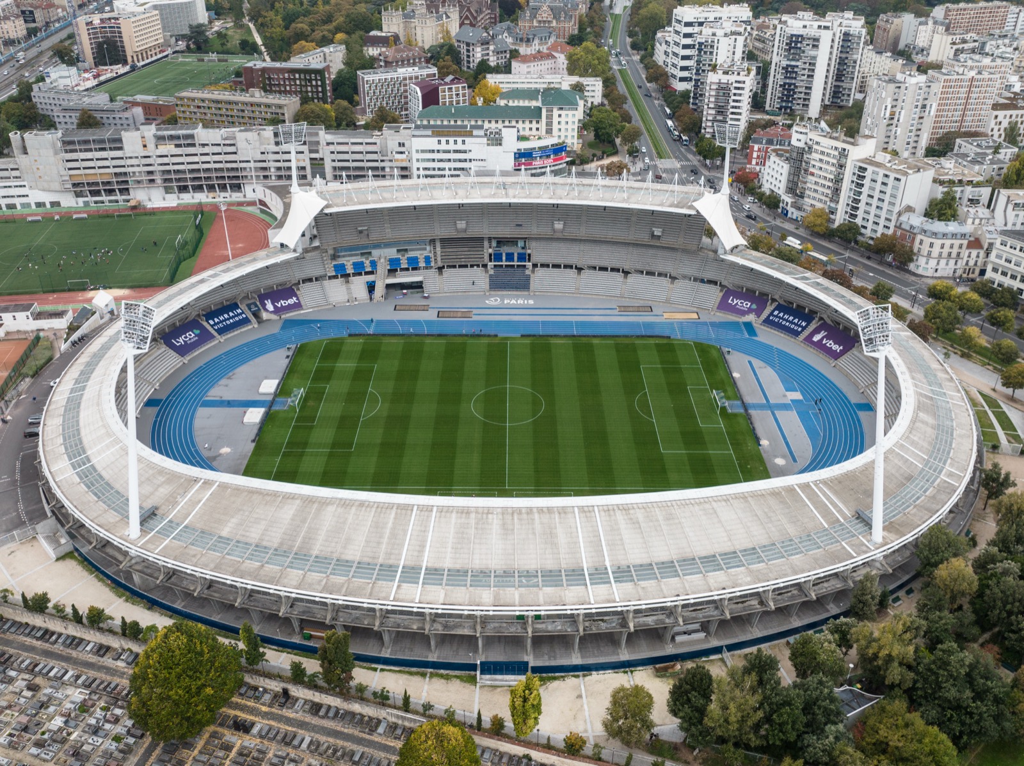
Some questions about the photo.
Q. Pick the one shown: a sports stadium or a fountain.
sports stadium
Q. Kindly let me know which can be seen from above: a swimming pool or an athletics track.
athletics track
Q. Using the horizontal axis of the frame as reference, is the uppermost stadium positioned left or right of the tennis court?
to the right of it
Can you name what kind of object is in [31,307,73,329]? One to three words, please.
building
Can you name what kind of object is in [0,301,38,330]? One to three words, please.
building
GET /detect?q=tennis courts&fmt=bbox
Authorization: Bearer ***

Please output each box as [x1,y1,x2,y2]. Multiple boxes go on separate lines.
[0,339,31,382]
